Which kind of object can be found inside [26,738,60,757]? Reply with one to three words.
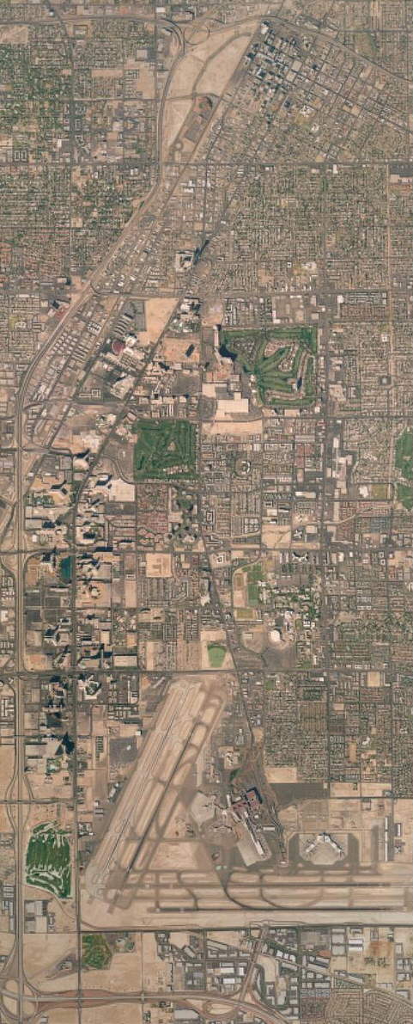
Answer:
building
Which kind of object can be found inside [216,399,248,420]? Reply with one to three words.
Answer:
building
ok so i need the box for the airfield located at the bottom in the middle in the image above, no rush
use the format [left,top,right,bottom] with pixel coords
[82,676,413,927]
